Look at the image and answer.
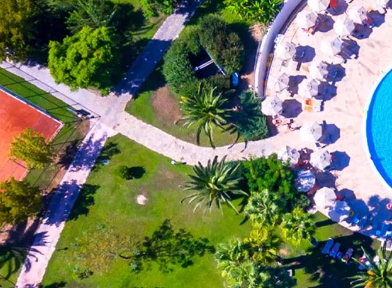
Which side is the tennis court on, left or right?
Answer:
left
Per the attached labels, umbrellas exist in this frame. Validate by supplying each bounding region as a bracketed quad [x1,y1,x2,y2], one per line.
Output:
[309,151,331,173]
[296,169,318,189]
[322,36,345,58]
[311,63,331,83]
[296,78,320,103]
[298,120,322,142]
[370,0,388,7]
[315,185,338,206]
[295,10,317,31]
[328,200,350,221]
[276,42,298,63]
[348,3,370,25]
[264,98,285,118]
[272,71,293,90]
[331,17,353,38]
[276,146,301,169]
[307,0,327,12]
